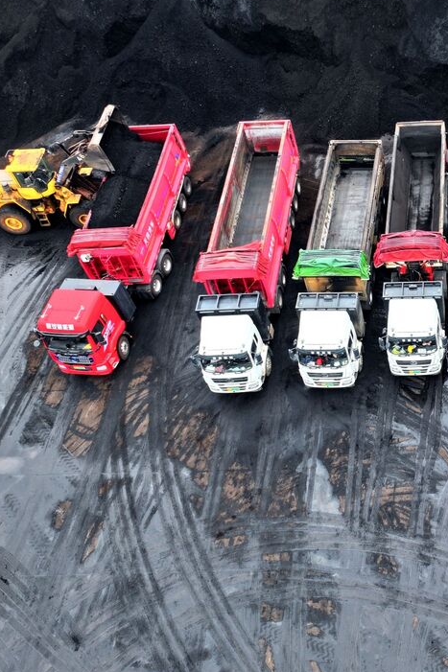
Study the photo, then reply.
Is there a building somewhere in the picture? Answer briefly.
No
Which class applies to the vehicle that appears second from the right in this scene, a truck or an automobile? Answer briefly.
truck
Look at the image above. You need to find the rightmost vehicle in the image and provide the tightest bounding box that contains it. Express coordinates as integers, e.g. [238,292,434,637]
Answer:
[373,120,448,374]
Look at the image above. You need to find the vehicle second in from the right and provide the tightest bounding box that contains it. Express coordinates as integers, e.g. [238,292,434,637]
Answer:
[283,139,386,387]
